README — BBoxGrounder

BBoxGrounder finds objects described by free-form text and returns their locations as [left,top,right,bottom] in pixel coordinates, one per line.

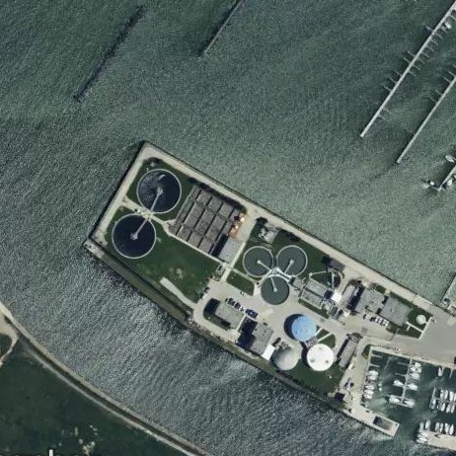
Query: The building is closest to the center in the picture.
[220,236,243,260]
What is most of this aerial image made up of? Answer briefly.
water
